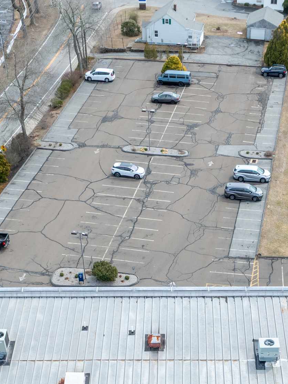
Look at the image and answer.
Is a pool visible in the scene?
No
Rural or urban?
urban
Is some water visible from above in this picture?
No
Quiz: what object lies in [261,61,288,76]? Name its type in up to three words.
car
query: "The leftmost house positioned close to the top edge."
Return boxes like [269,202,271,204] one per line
[133,0,207,47]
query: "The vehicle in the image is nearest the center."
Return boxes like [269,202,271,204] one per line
[111,159,148,177]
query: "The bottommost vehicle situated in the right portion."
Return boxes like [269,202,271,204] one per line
[224,180,265,200]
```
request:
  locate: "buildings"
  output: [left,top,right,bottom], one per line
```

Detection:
[133,0,207,47]
[246,9,285,41]
[0,286,288,384]
[236,0,288,10]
